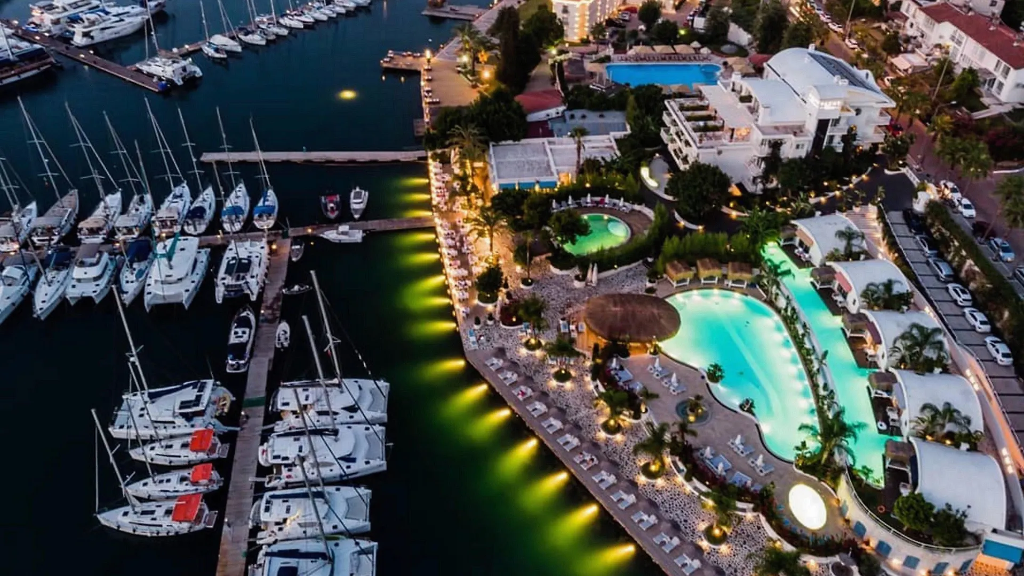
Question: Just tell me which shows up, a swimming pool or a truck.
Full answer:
Looking from above, you can make out a swimming pool.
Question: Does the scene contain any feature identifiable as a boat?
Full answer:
Yes, the photo shows a boat.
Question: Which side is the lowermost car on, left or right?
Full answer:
The lowermost car sits on the right side.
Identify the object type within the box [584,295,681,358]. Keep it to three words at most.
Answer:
building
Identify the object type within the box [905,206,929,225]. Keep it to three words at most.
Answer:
car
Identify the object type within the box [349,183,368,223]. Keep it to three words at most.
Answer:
boat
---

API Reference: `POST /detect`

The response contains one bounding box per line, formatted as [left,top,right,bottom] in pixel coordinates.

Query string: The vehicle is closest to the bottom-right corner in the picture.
[982,331,1023,364]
